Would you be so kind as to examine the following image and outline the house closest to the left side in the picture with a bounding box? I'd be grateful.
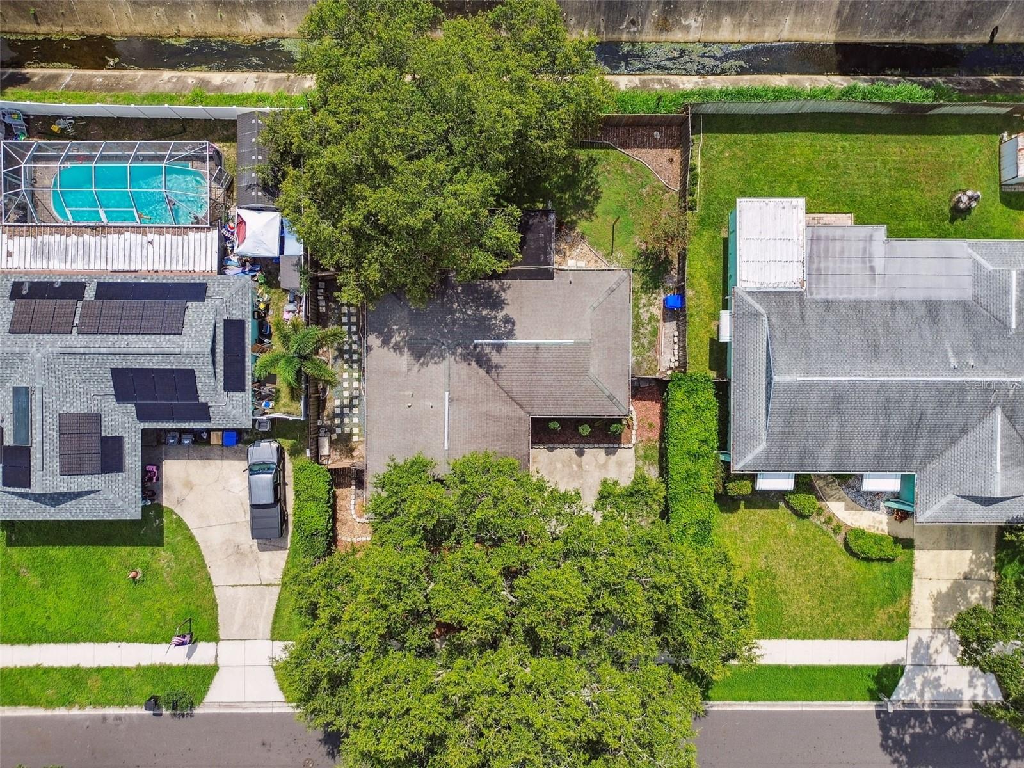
[0,274,260,521]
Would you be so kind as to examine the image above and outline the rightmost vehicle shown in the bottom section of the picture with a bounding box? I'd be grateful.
[242,437,288,539]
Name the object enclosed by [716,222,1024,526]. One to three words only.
house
